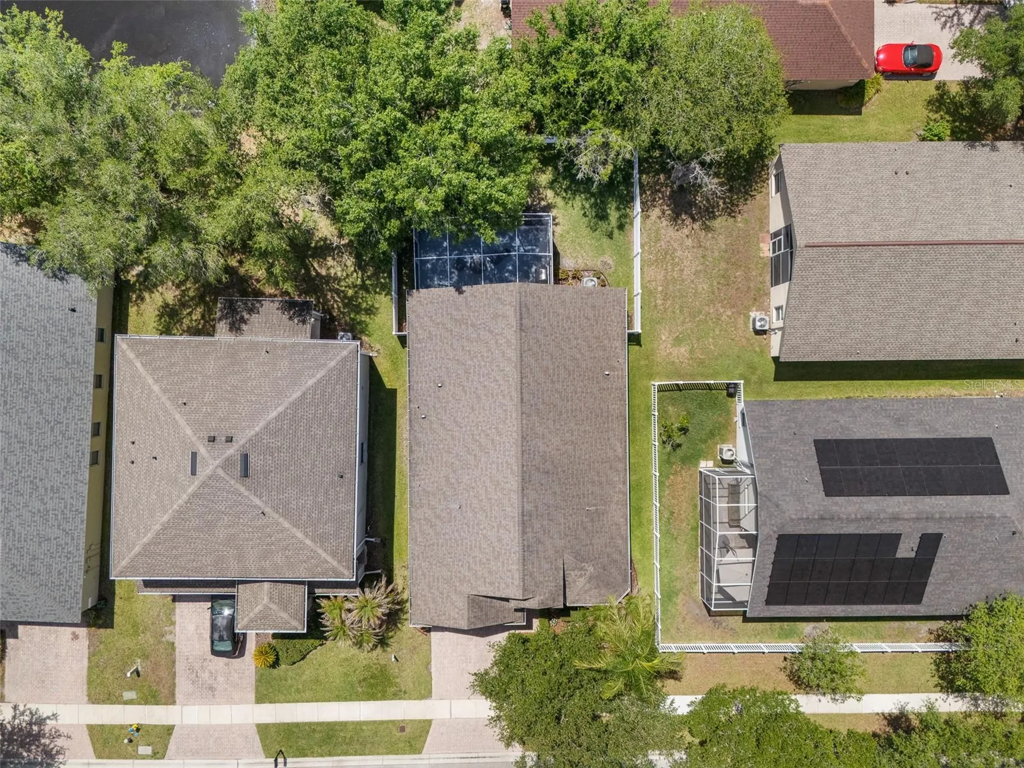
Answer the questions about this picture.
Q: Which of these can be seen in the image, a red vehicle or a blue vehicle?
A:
red vehicle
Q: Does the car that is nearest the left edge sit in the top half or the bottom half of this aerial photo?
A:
bottom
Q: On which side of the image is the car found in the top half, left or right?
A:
right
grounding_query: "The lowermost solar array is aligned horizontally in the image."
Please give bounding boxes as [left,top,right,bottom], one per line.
[766,534,941,605]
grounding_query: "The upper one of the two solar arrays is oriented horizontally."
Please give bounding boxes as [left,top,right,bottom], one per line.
[810,439,1008,496]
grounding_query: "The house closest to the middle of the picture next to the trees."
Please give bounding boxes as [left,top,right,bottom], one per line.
[406,283,631,634]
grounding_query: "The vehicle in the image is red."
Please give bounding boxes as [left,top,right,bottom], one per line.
[875,40,942,78]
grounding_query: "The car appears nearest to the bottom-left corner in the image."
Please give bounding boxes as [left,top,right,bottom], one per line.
[205,594,244,659]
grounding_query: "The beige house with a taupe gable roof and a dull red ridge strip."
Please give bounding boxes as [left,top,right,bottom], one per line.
[771,142,1024,361]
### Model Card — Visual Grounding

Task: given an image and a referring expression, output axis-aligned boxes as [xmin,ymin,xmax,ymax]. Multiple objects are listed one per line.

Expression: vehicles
[875,40,942,78]
[205,594,244,659]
